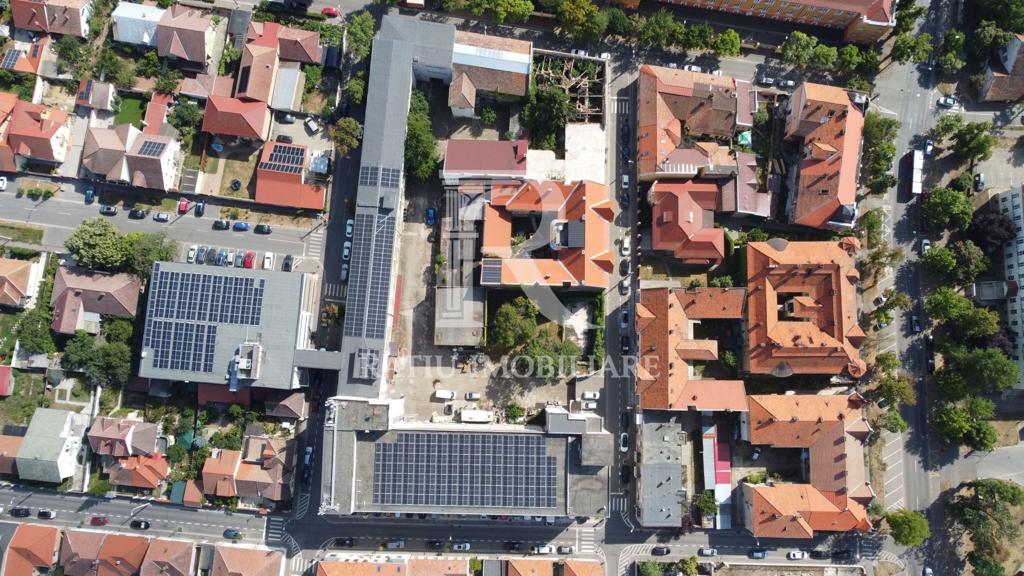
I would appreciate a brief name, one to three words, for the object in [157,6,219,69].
house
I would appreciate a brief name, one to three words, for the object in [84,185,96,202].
vehicle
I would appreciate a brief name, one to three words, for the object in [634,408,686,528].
building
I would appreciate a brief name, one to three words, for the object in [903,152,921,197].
vehicle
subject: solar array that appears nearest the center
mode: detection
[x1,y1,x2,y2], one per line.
[483,260,502,282]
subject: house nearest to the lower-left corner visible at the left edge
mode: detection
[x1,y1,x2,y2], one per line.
[4,522,68,576]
